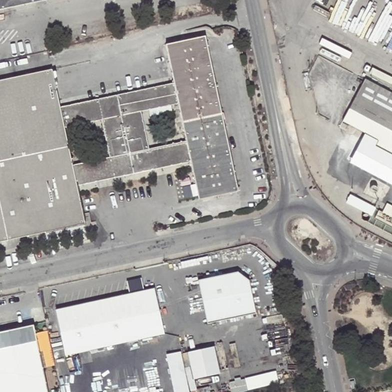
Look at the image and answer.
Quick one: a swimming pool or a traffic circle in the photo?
traffic circle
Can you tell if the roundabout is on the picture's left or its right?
right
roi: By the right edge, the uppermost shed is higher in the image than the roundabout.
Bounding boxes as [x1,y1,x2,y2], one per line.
[349,77,392,130]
